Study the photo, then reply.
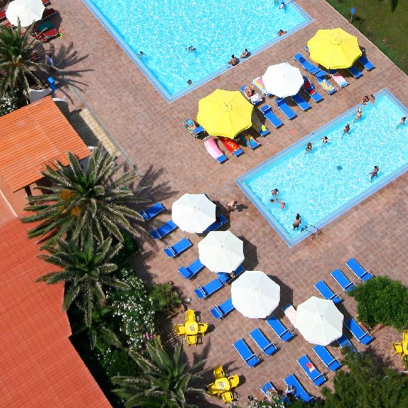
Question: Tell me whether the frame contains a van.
No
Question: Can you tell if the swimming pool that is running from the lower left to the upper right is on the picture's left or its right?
right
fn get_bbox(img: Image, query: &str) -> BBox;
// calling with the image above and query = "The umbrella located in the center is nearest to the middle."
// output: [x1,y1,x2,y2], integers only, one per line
[171,192,218,233]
